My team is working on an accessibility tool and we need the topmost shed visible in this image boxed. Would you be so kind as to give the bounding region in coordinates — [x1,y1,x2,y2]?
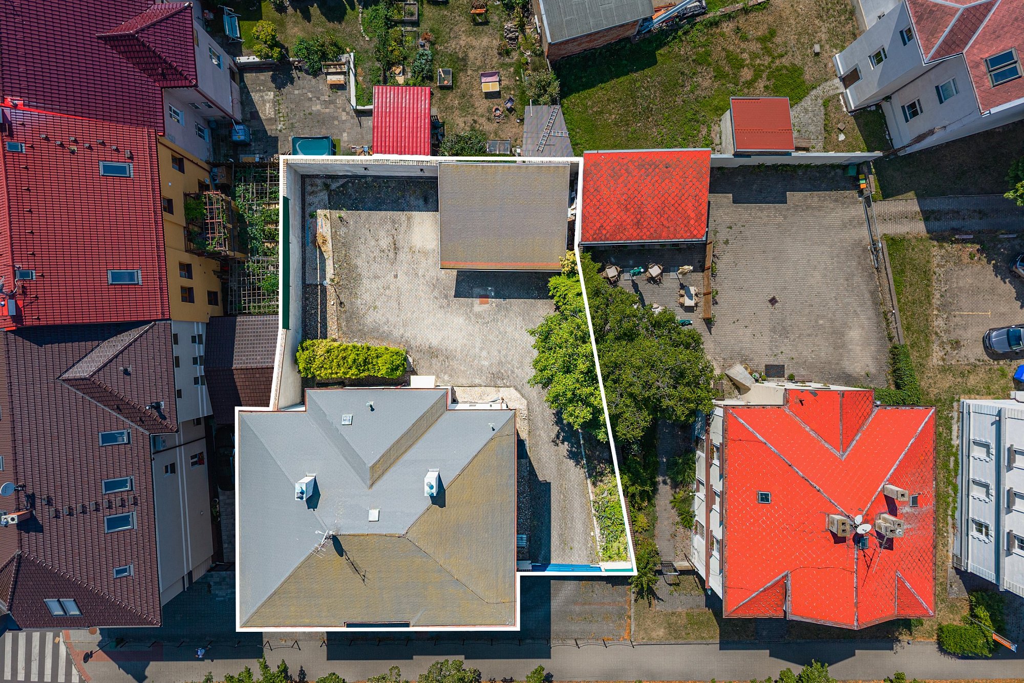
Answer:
[537,0,656,57]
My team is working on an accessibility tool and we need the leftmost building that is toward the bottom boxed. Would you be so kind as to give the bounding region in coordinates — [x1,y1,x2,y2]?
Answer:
[0,323,215,629]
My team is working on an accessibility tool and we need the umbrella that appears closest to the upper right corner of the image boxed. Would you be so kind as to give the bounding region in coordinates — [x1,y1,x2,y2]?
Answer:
[670,267,694,279]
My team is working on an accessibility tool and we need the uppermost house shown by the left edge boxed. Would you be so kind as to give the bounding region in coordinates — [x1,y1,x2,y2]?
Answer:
[0,0,240,163]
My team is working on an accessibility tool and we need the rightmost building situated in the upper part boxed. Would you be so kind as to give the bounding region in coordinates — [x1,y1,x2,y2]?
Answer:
[834,0,1024,156]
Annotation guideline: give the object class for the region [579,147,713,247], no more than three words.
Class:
building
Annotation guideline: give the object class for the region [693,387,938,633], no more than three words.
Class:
house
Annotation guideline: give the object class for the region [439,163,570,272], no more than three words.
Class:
building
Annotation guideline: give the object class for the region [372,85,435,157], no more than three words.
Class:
shed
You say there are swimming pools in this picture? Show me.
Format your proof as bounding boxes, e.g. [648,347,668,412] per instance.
[291,136,337,157]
